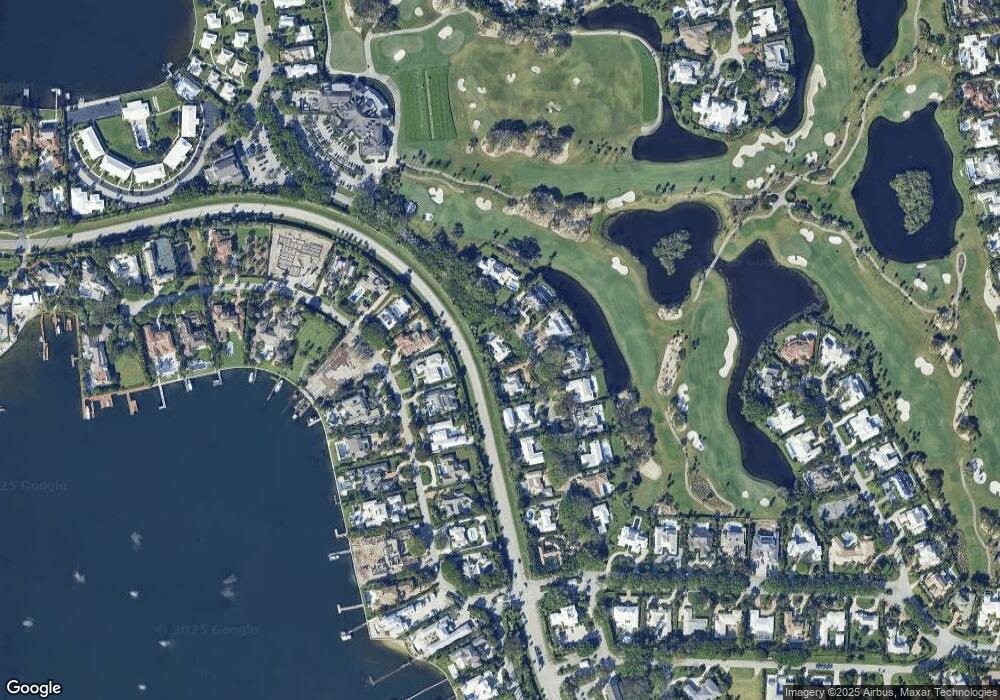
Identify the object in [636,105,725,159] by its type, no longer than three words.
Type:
pond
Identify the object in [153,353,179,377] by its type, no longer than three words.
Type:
swimming pool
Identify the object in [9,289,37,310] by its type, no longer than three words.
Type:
house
